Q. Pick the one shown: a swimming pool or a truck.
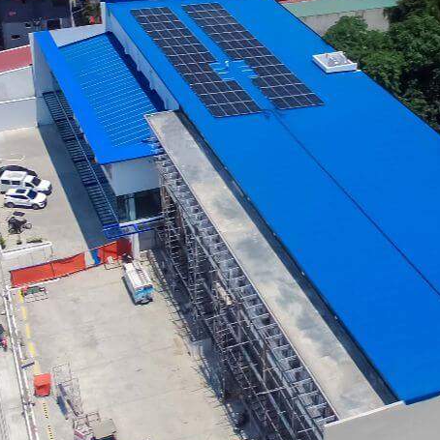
truck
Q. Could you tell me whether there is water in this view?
No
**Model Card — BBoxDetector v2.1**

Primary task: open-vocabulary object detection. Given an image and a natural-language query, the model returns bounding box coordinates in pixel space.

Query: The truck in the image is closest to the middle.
[119,248,154,299]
